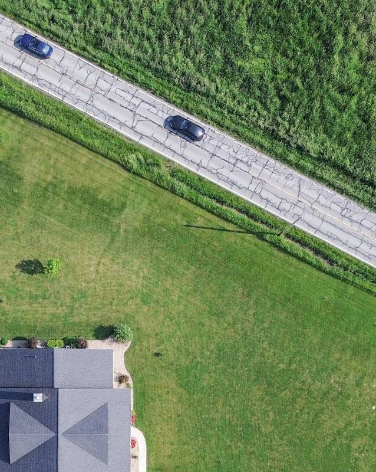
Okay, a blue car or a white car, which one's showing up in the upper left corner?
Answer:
blue car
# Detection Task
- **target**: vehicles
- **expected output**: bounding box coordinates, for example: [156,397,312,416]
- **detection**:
[20,34,55,61]
[169,116,205,143]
